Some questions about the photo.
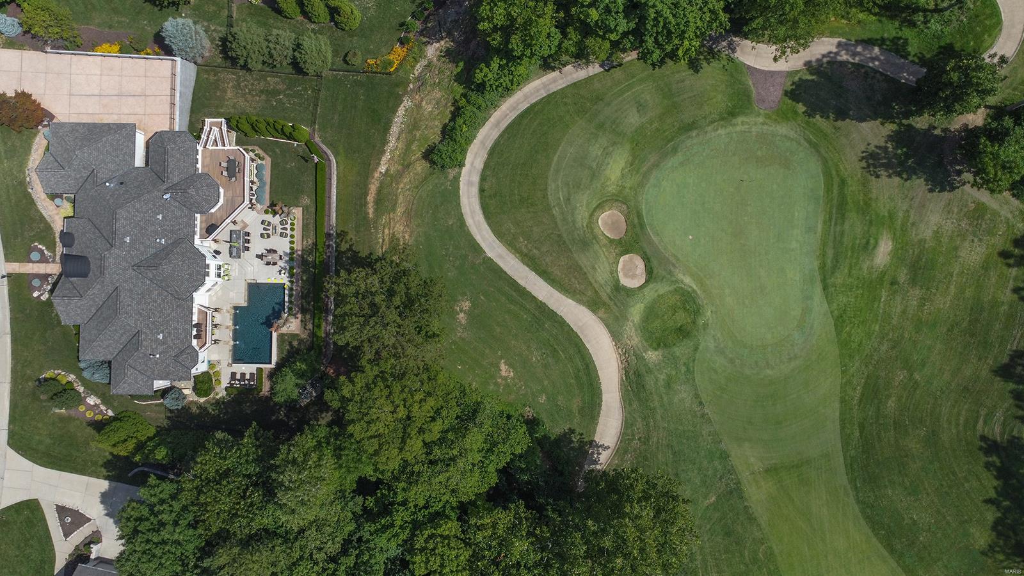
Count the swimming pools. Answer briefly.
one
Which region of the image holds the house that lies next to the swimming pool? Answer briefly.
left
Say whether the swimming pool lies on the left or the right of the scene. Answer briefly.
left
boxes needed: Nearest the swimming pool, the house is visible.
[34,119,254,395]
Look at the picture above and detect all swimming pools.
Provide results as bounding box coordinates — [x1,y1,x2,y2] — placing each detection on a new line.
[227,280,289,367]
